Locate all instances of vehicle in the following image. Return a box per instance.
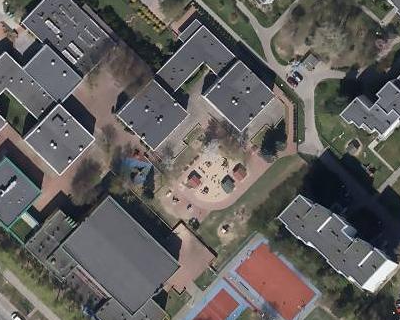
[11,313,23,320]
[294,71,303,81]
[288,75,299,86]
